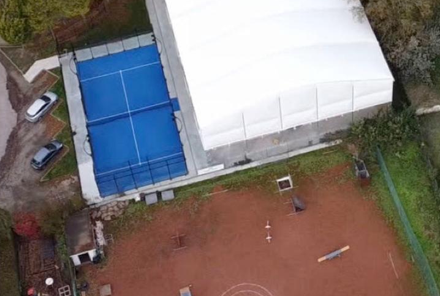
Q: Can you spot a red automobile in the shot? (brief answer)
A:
No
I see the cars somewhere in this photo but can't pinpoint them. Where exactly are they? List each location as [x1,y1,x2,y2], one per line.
[21,87,59,120]
[23,137,64,170]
